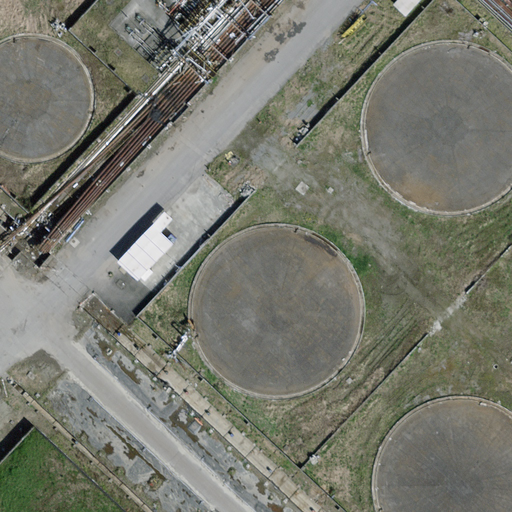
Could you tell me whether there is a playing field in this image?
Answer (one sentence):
No, the frame has no playing field in it.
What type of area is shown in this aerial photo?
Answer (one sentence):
The area seen from above is an industrial area.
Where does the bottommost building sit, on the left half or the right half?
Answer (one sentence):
The bottommost building appears in the left half of the scene.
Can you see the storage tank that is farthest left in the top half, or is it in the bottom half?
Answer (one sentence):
The storage tank that is farthest left sits in the top half of the picture.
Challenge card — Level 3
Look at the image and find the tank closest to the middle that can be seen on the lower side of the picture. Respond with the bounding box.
[188,222,364,398]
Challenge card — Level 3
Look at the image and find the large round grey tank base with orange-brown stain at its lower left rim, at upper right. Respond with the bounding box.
[362,40,512,214]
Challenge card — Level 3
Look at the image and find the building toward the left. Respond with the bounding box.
[116,211,173,284]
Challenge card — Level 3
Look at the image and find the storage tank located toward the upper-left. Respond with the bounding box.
[0,33,94,162]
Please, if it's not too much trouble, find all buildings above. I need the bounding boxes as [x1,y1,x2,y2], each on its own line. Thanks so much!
[394,0,420,16]
[116,211,173,284]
